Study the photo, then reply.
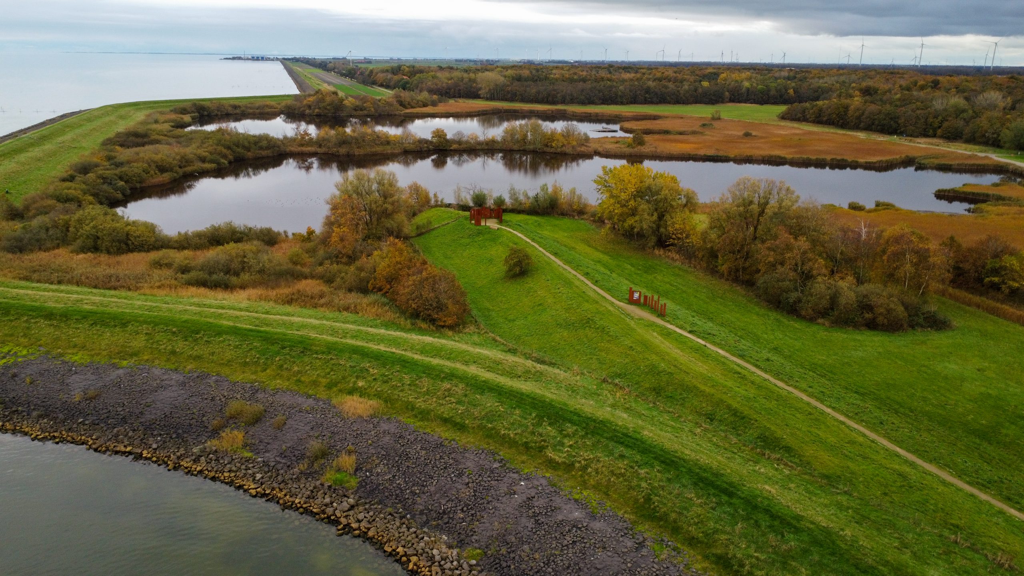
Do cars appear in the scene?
No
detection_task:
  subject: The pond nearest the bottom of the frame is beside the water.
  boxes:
[126,150,1024,234]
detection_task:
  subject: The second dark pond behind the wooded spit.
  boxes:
[195,112,686,140]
